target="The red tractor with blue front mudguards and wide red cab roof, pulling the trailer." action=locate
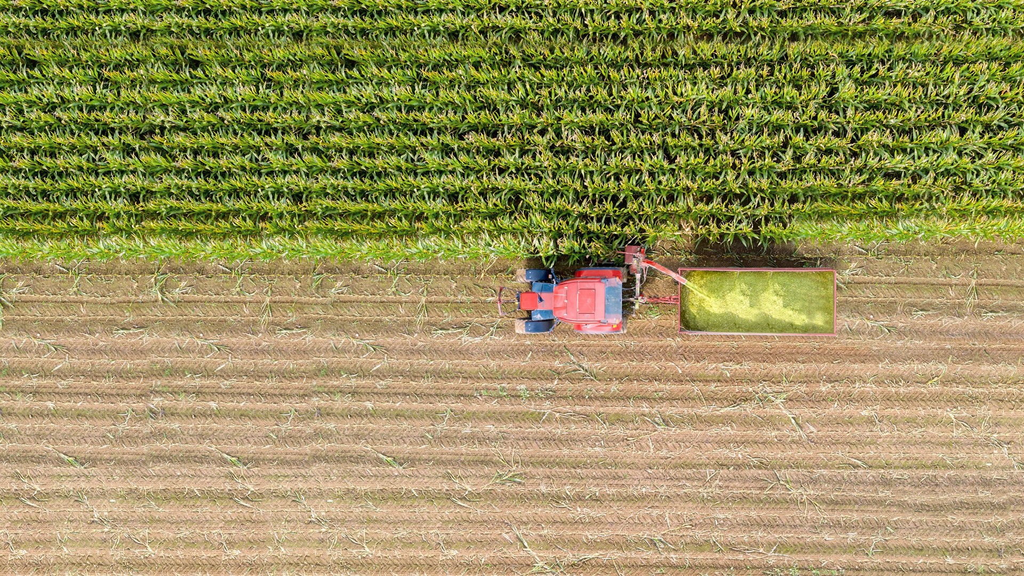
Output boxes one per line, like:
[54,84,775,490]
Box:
[497,266,632,335]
